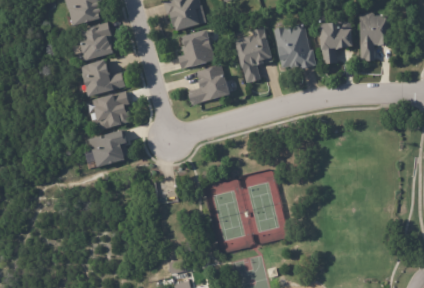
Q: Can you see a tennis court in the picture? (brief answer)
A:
Yes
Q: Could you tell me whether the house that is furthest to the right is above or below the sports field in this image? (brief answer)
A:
above it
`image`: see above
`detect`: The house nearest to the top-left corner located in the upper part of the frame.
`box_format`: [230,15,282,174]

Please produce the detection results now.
[66,0,100,24]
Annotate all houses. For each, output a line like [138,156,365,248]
[82,23,112,60]
[190,64,229,103]
[93,92,130,130]
[274,23,314,70]
[66,0,100,24]
[179,32,212,68]
[238,28,272,83]
[321,22,352,64]
[82,59,126,96]
[170,0,206,30]
[360,12,386,60]
[90,130,126,166]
